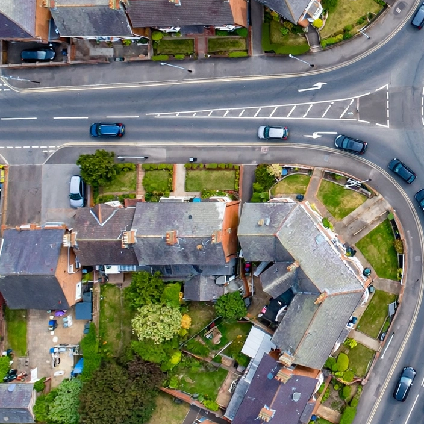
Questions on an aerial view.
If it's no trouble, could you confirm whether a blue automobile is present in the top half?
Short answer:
Yes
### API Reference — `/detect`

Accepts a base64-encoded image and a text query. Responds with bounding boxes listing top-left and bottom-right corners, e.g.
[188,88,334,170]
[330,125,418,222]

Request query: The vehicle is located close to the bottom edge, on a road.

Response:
[392,364,416,405]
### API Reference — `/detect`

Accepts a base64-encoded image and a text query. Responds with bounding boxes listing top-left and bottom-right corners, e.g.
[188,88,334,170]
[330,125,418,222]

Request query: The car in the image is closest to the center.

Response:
[258,123,292,141]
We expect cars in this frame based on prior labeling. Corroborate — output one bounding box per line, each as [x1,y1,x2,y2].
[92,121,127,139]
[17,45,58,63]
[415,188,424,214]
[408,0,424,34]
[392,364,416,405]
[387,155,418,187]
[334,133,369,155]
[258,123,292,141]
[67,174,86,208]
